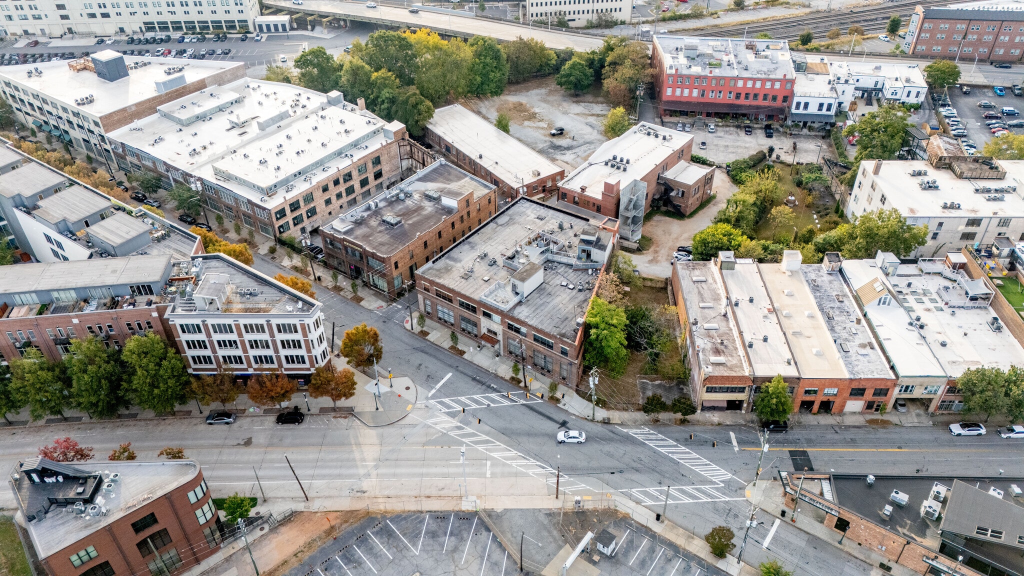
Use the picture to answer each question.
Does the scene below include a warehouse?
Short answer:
Yes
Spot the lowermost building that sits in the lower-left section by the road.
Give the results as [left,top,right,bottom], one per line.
[8,456,229,576]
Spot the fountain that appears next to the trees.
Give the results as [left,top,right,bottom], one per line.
[776,189,804,208]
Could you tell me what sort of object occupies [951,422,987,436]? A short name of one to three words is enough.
car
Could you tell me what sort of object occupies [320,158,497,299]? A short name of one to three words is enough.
warehouse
